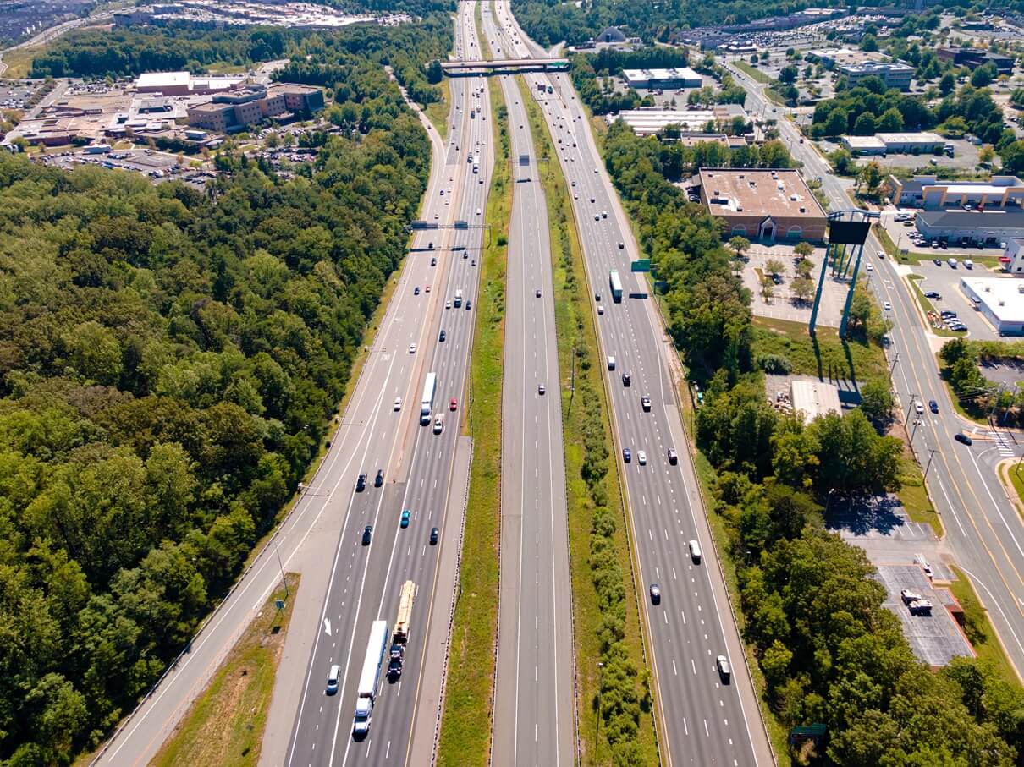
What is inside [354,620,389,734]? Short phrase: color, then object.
white truck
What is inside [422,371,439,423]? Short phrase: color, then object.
white vehicle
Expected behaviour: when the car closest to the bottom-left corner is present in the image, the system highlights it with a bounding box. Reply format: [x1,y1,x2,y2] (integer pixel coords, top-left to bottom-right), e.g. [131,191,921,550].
[324,666,340,693]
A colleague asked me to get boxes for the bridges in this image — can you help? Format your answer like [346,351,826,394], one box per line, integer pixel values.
[449,58,573,73]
